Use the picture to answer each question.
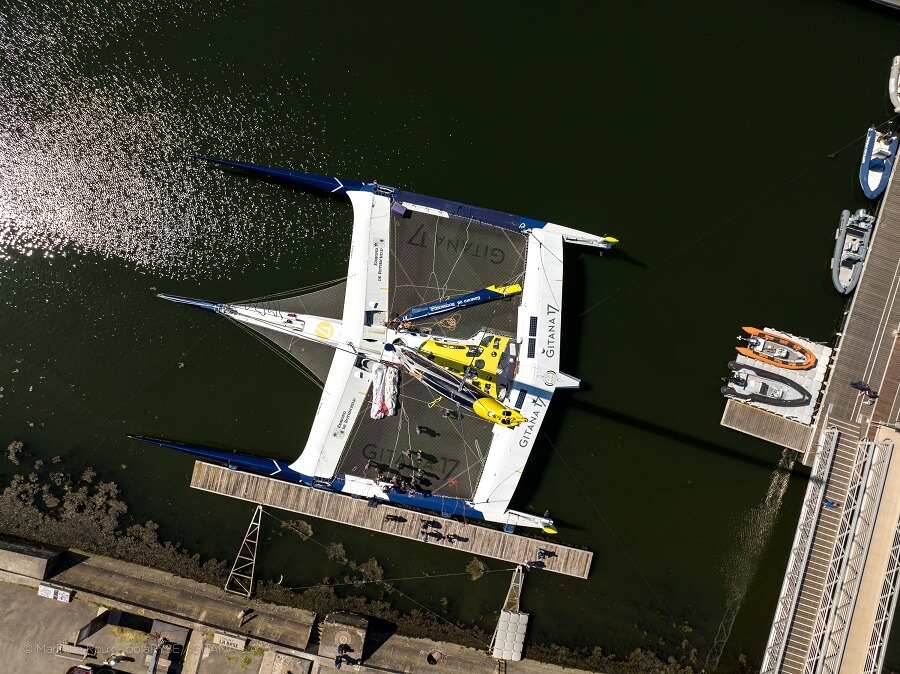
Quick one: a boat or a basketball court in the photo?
boat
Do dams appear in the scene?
No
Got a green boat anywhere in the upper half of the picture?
No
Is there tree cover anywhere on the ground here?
No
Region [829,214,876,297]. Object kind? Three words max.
boat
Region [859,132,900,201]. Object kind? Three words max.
boat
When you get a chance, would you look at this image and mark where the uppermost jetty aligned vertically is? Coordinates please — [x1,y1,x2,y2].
[802,146,900,470]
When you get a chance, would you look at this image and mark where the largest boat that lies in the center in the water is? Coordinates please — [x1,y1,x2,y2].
[127,156,618,533]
